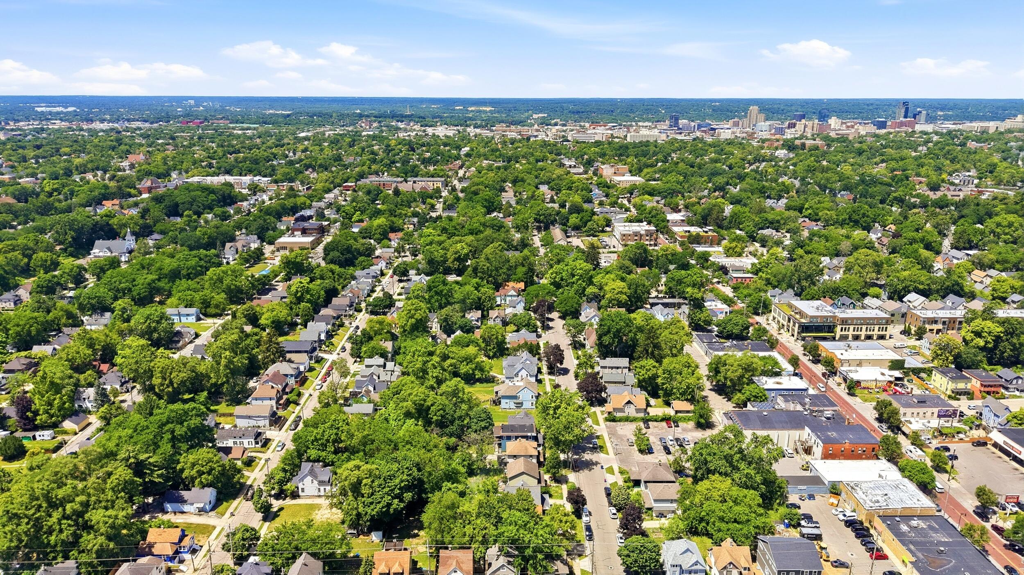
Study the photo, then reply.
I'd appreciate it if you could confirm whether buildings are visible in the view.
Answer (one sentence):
Yes, the picture does show a building.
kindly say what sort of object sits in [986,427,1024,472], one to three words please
building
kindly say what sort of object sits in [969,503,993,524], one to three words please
vehicle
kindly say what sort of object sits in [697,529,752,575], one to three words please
house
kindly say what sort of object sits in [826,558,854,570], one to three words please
vehicle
